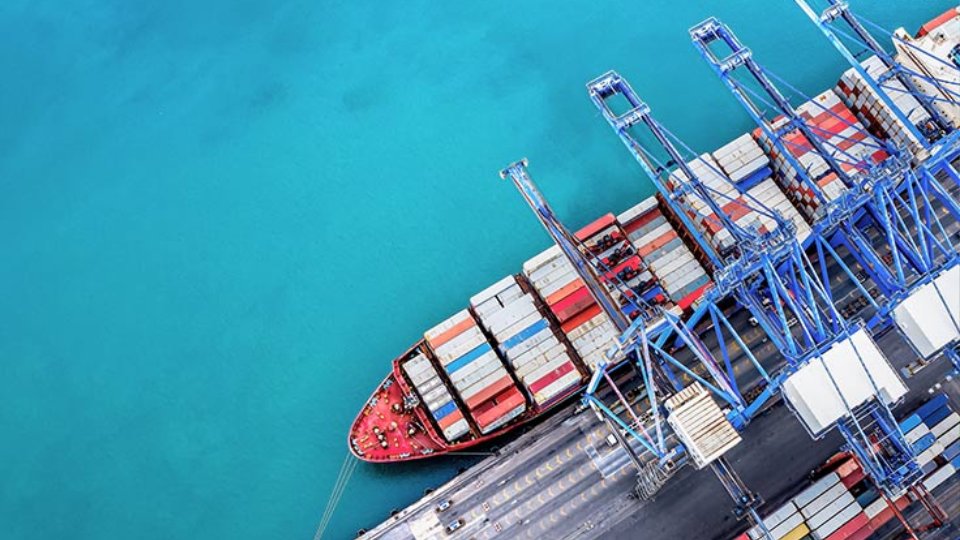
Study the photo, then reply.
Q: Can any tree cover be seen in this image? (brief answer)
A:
No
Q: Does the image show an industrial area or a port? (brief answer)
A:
port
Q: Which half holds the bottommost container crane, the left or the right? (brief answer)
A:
right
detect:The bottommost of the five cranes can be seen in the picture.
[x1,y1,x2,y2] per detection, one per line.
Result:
[823,448,953,540]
